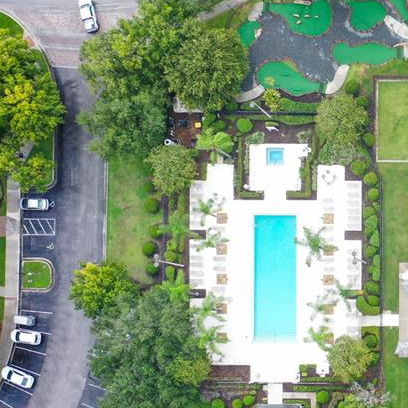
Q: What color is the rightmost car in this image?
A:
white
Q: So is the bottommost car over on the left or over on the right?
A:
left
